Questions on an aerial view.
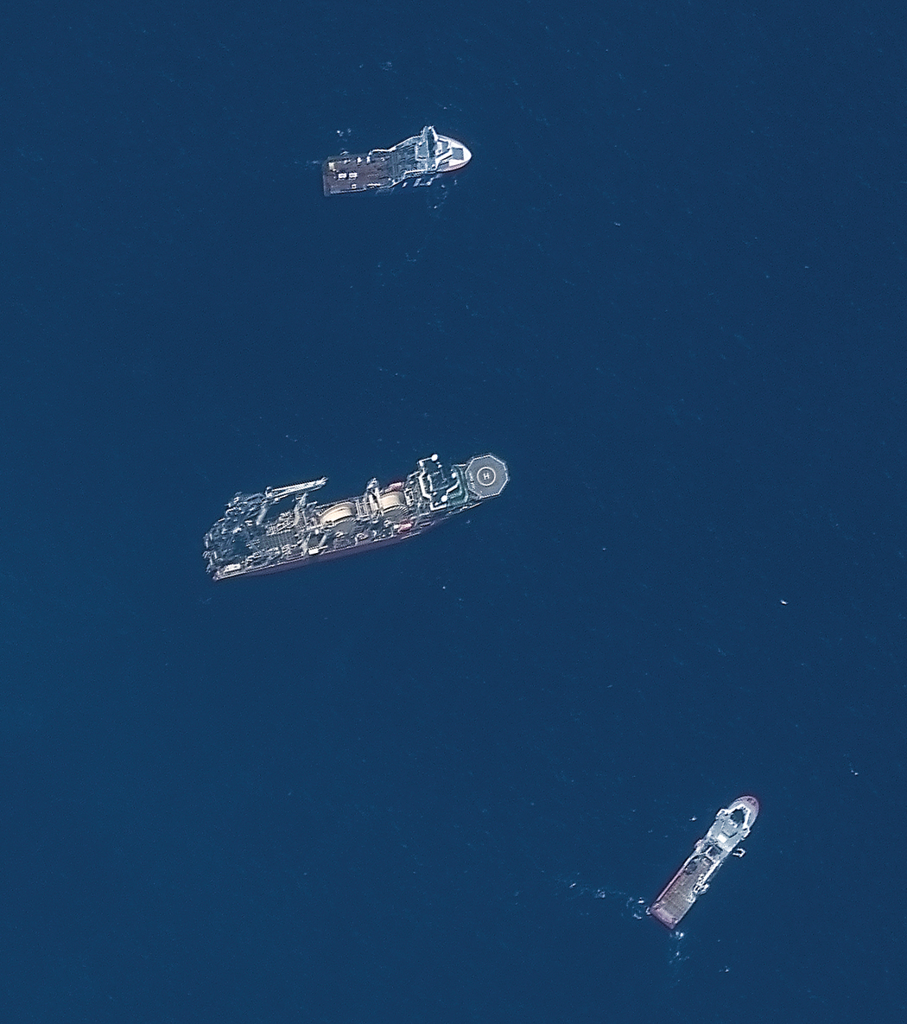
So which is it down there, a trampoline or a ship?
ship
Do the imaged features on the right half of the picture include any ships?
Yes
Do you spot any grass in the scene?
No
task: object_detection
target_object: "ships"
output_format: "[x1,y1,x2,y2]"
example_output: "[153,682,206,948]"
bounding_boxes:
[202,453,510,581]
[648,796,760,932]
[321,126,472,199]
